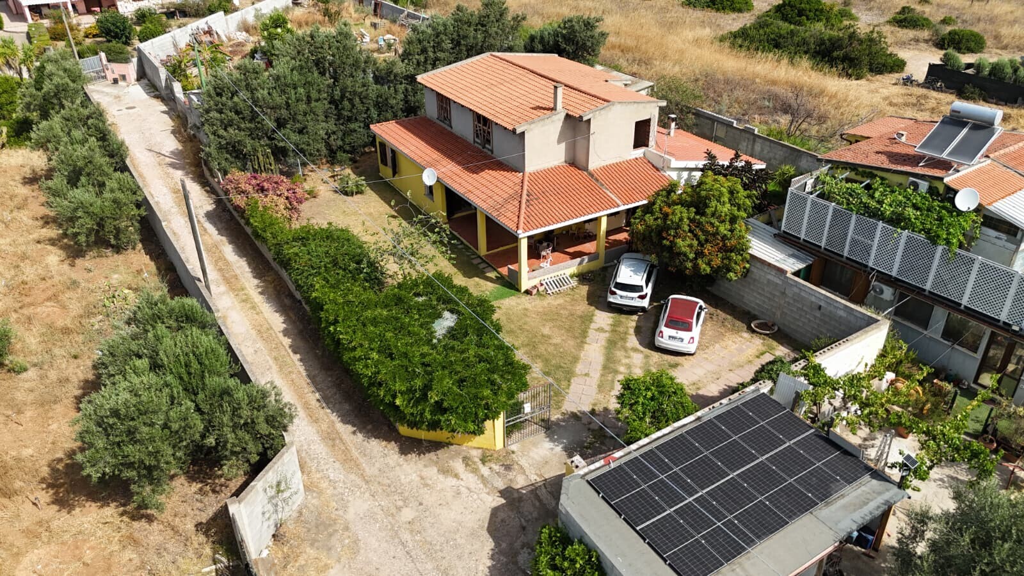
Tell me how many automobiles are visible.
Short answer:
2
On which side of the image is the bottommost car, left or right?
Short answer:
right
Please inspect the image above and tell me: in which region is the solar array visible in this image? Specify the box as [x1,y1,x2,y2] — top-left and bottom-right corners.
[589,392,875,576]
